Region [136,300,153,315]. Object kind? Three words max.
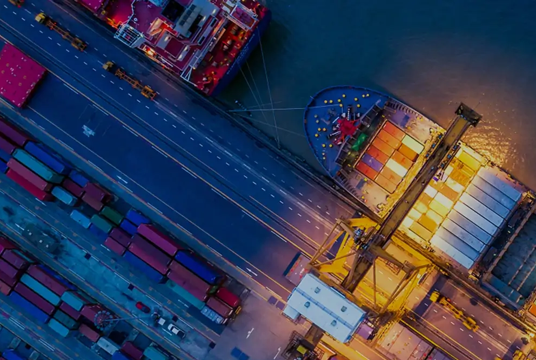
car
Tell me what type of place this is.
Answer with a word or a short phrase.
port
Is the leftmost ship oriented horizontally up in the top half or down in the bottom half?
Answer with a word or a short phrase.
top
